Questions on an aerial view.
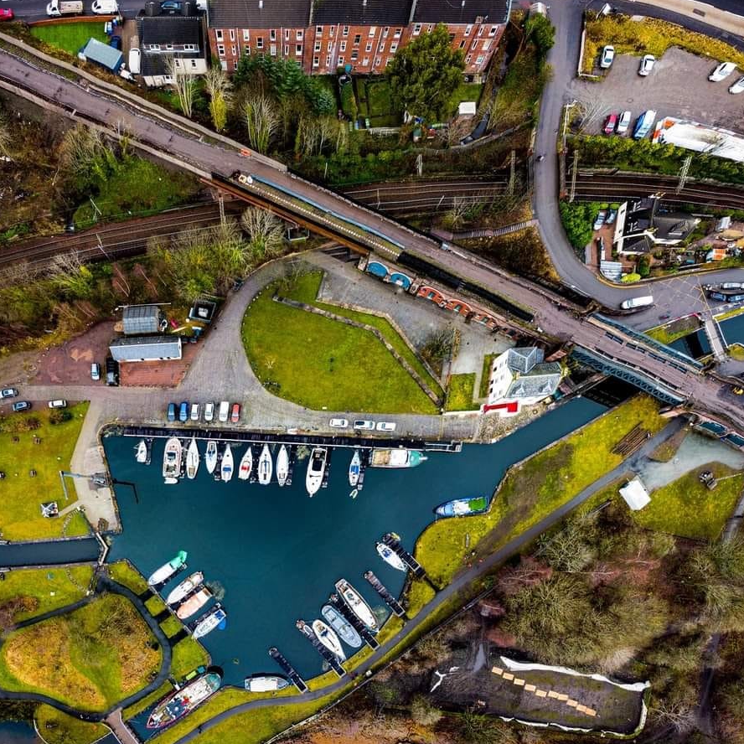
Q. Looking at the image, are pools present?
No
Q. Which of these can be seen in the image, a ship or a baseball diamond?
ship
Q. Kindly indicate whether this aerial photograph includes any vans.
Yes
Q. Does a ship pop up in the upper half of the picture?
No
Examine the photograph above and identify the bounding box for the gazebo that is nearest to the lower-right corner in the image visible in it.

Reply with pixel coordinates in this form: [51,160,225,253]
[613,479,651,511]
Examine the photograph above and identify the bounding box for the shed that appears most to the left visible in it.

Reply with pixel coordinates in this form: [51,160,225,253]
[83,37,126,78]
